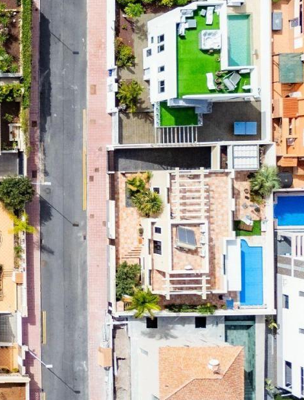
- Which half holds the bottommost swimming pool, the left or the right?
right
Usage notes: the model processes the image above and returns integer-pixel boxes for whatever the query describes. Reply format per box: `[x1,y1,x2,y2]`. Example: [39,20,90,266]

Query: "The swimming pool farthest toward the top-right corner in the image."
[227,13,251,67]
